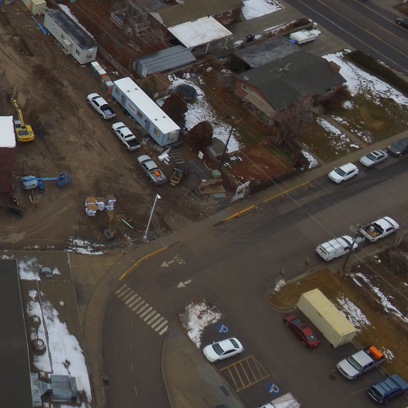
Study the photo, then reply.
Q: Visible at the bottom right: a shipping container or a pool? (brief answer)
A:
shipping container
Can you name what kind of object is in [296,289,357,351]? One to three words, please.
shipping container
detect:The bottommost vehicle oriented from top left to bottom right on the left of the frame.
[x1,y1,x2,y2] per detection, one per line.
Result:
[136,155,170,188]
